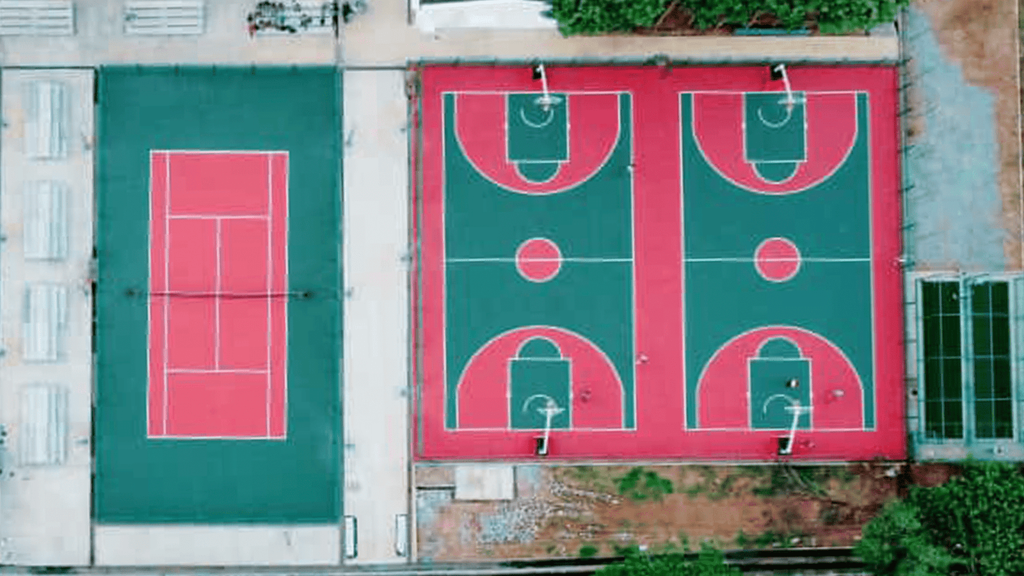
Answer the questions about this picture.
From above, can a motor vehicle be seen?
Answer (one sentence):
No, there is no motor vehicle in the image.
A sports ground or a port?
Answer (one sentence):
What you see here is a sports ground.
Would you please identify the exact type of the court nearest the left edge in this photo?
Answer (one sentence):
In the photo, the court nearest the left edge shows up as a tennis court.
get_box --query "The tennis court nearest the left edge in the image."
[95,69,341,525]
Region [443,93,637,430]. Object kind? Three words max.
basketball court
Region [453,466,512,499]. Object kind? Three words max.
shed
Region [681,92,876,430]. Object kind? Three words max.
basketball court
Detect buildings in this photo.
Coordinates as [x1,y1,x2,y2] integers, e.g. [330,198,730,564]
[453,466,512,499]
[424,0,564,43]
